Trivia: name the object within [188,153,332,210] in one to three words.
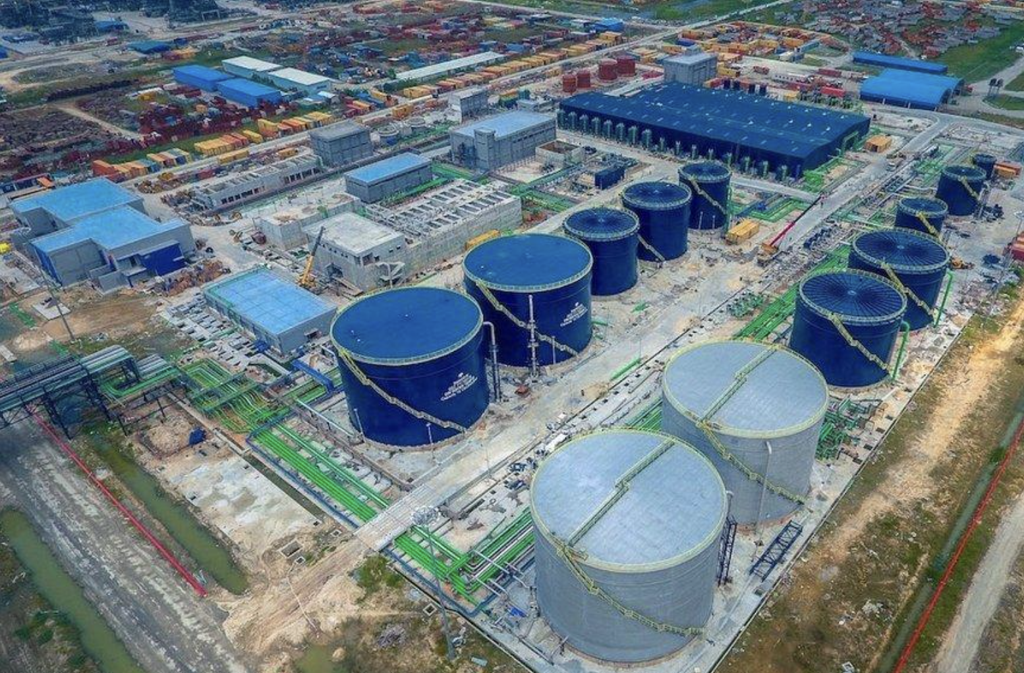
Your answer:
building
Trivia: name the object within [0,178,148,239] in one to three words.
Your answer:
building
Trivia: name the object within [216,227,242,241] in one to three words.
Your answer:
work vehicle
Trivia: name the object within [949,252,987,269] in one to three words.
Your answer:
work vehicle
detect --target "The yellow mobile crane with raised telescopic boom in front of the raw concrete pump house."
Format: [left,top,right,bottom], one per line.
[292,225,326,286]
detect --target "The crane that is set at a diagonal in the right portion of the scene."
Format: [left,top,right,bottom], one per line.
[749,193,822,262]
